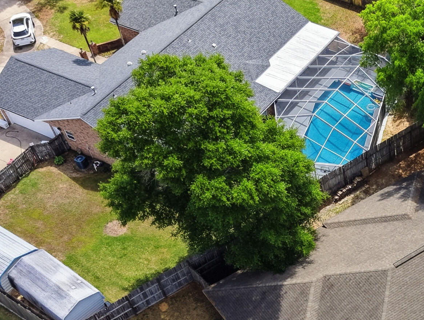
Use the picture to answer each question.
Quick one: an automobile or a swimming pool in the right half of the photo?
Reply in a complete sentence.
The one visible in the right half of the photo is a swimming pool.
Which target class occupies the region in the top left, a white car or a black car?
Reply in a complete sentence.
Looking in the top left, you will find a white car.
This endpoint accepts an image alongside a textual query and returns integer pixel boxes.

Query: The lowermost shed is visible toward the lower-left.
[6,253,111,320]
